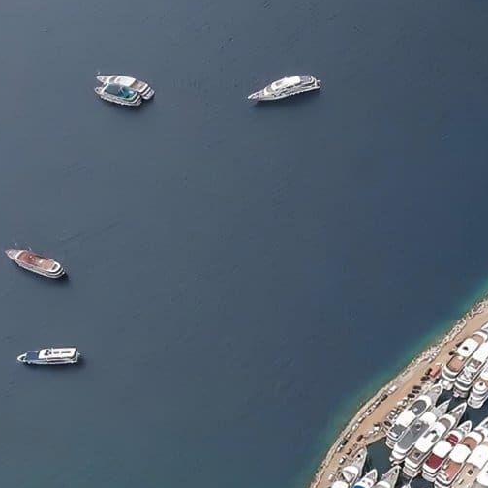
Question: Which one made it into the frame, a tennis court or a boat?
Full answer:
The one in the frame is a boat.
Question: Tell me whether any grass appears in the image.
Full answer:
No, there's no grass in this view.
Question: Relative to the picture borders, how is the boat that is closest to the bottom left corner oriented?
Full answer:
The boat that is closest to the bottom left corner runs horizontally in the image.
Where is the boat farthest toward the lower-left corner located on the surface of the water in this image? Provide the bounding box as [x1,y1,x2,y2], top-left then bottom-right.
[19,345,82,367]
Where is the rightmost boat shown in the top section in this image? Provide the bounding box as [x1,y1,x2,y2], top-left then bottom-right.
[249,75,323,102]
